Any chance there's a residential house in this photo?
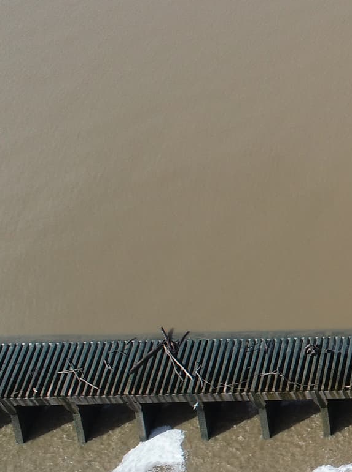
No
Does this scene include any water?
Yes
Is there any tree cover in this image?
No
